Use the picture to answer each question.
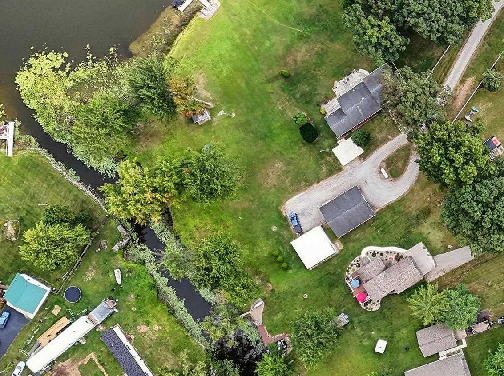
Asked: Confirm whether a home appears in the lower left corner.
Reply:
Yes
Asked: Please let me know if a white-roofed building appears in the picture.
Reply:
Yes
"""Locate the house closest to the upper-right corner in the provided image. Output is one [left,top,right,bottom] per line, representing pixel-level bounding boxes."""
[324,63,399,139]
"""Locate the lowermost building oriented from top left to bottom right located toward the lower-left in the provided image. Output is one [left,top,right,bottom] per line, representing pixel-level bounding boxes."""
[101,326,153,376]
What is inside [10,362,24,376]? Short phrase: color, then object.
white car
